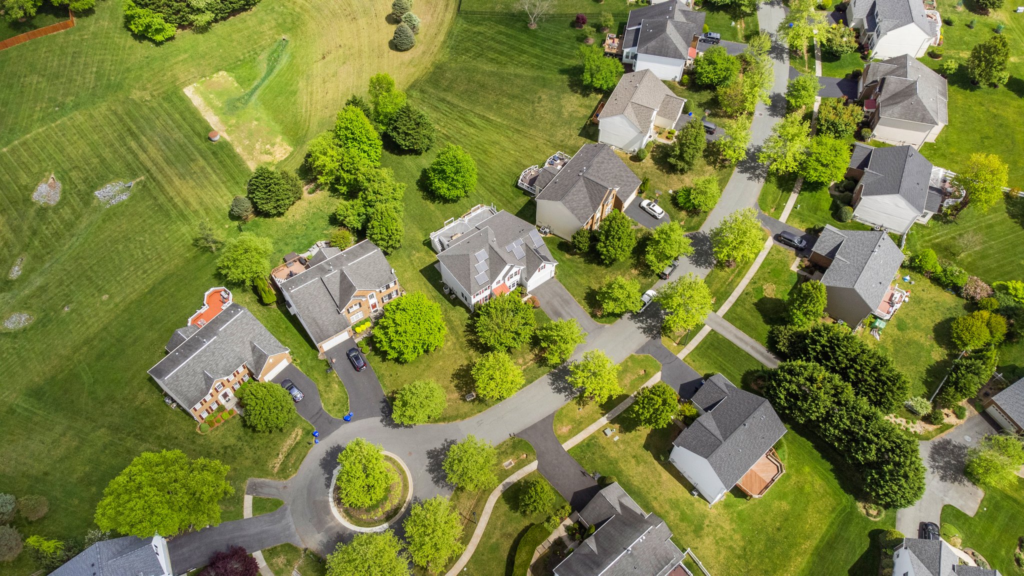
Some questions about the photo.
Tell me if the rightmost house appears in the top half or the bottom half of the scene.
bottom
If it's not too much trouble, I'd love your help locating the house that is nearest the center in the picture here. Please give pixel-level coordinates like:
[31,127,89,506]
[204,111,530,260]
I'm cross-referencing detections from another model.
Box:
[436,206,561,313]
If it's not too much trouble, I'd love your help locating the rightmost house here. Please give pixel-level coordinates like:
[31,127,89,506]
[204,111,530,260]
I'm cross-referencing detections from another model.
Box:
[986,374,1024,446]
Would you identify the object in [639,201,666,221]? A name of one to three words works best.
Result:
car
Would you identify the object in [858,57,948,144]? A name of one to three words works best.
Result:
house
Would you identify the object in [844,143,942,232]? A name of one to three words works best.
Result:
house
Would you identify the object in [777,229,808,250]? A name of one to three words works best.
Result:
car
